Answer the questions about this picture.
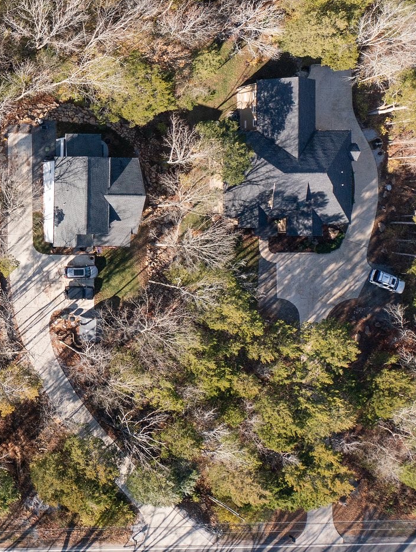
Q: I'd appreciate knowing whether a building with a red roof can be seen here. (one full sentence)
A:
No, I find no building with a red roof anywhere in the image.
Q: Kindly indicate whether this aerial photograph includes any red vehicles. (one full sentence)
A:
No, no red vehicle can be seen from above.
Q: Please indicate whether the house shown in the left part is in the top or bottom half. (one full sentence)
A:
It is in the top half that the house shown in the left part appears.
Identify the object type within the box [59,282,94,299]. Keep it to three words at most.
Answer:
car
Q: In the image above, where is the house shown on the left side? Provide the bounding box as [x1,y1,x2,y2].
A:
[43,134,146,247]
